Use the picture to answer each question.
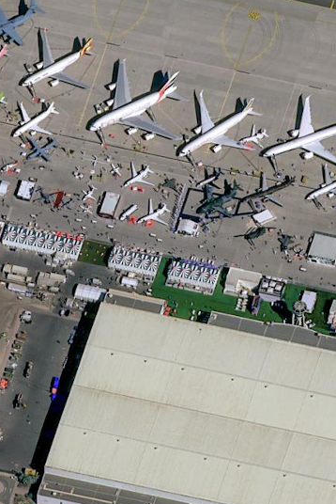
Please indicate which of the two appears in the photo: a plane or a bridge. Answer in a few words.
plane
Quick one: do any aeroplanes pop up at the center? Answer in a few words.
Yes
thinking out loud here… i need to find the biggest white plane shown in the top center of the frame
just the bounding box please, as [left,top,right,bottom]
[89,58,189,140]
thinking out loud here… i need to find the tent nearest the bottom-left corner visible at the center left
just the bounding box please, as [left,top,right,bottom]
[74,283,106,304]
